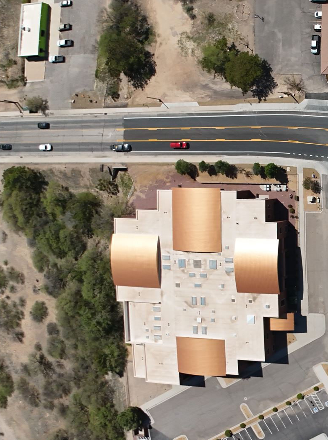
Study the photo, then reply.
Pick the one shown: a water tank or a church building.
church building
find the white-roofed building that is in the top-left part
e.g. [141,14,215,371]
[18,2,52,58]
